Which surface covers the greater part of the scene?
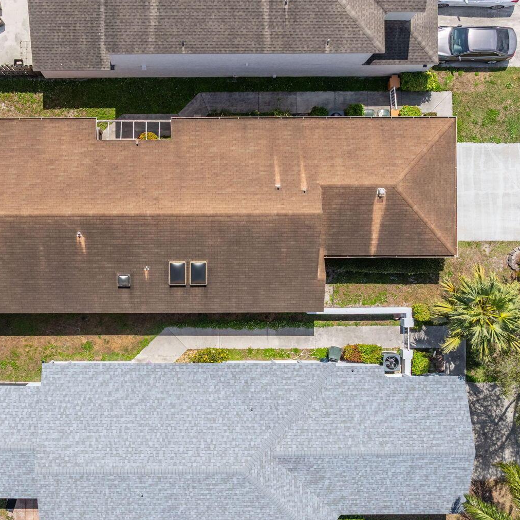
buildings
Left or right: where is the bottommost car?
right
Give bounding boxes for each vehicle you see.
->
[437,0,517,8]
[437,21,516,63]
